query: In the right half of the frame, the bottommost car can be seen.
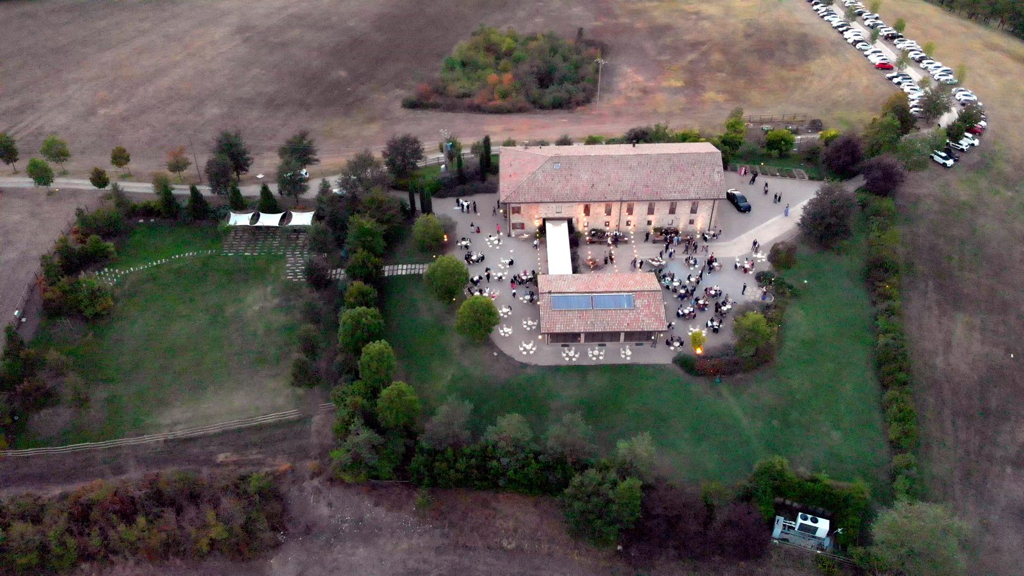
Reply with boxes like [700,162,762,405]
[726,192,753,212]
